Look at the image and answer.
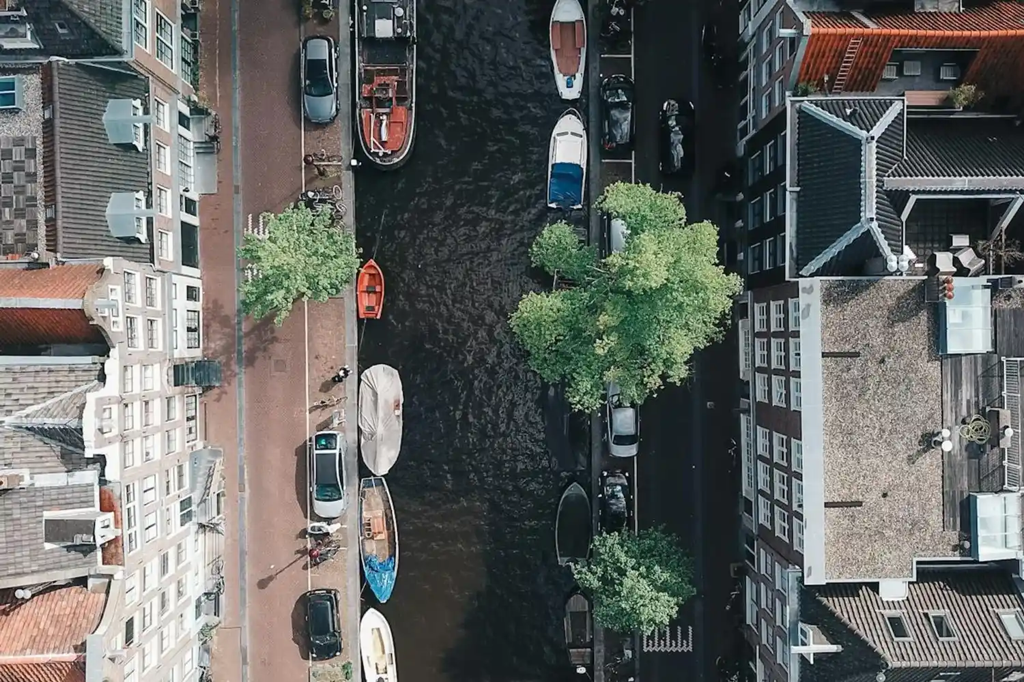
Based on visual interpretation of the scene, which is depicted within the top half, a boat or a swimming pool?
boat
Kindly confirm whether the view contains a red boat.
Yes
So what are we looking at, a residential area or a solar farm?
residential area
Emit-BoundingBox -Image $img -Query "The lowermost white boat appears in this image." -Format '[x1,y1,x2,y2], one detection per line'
[361,607,397,682]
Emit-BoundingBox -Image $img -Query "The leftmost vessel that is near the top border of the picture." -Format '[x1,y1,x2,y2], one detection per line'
[356,0,417,165]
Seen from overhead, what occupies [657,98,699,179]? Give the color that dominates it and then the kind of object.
black car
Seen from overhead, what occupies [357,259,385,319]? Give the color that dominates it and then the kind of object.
red boat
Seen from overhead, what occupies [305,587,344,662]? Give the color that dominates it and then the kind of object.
black car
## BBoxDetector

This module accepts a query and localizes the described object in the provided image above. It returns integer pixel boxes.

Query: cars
[297,35,339,125]
[599,74,639,153]
[598,467,635,539]
[657,98,699,179]
[307,432,348,517]
[602,377,643,458]
[305,587,344,662]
